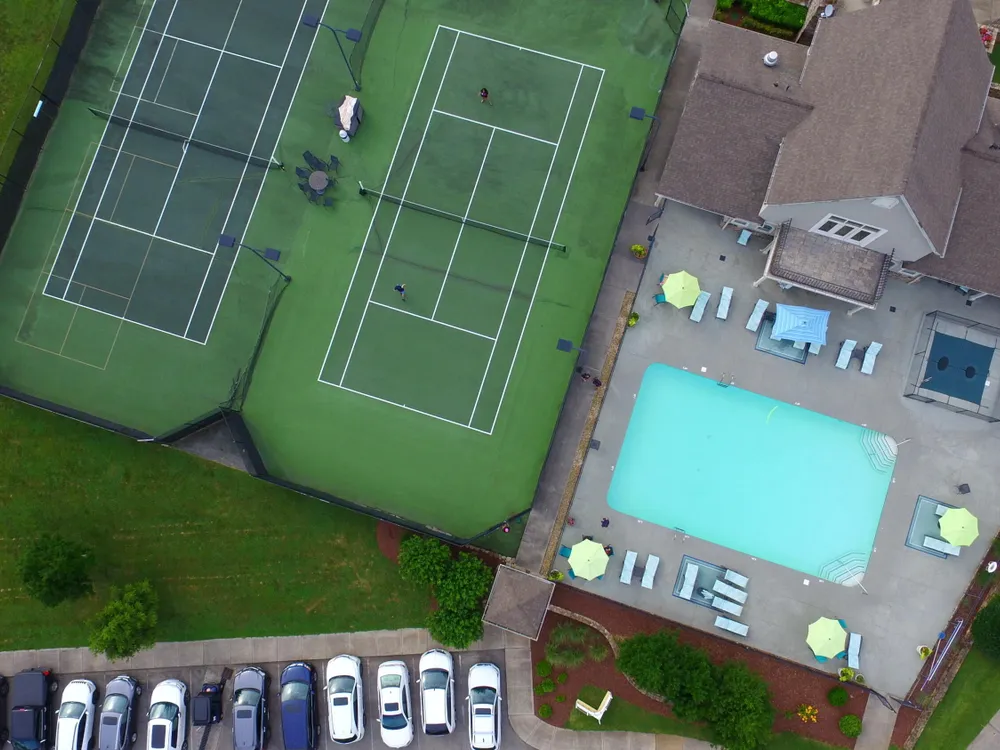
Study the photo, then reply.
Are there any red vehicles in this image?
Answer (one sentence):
No, the scene contains no red vehicle.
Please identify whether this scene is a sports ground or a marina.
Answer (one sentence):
The area seen from above is a sports ground.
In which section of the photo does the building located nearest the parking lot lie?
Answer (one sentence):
The building located nearest the parking lot sits in the bottom section of the image.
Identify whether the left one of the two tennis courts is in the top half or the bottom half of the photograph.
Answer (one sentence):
You can find the left one of the two tennis courts in the top half.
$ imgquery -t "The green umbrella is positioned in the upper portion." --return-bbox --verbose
[661,271,701,311]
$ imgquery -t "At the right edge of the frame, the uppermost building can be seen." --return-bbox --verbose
[653,0,1000,316]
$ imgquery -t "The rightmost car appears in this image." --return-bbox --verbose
[464,661,505,750]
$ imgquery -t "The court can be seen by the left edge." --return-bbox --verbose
[0,0,384,434]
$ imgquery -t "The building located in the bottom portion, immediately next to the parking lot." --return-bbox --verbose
[481,562,555,641]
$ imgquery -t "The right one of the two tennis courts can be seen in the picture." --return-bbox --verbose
[240,0,689,537]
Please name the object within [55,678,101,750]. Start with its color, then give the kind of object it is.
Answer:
white car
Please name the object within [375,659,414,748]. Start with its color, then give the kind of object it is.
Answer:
white car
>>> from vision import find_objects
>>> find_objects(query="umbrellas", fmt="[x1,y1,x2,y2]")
[806,616,847,658]
[931,505,977,548]
[566,538,608,581]
[661,271,701,311]
[771,305,828,346]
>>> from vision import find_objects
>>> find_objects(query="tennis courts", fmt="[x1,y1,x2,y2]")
[0,0,384,434]
[240,0,689,537]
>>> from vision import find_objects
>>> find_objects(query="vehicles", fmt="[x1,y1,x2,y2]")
[464,661,505,750]
[323,653,368,745]
[10,660,60,750]
[55,678,101,750]
[229,665,272,750]
[277,661,321,750]
[147,678,192,750]
[375,659,414,748]
[99,675,144,750]
[416,647,457,739]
